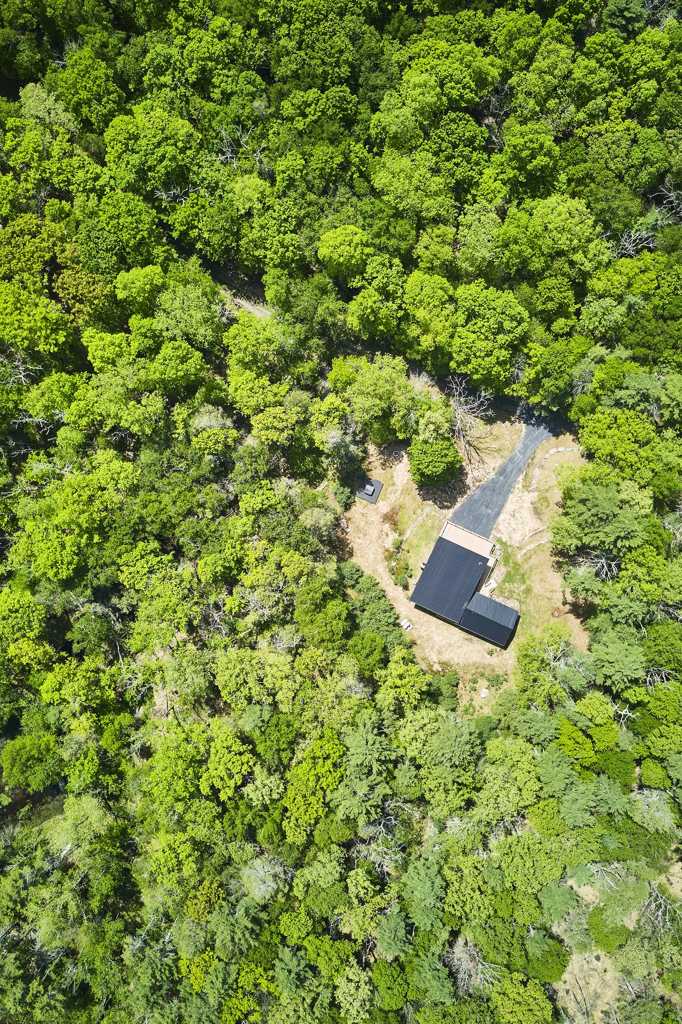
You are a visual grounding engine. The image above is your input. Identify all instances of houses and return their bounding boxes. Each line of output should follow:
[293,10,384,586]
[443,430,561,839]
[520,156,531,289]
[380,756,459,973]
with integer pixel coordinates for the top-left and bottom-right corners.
[410,522,518,646]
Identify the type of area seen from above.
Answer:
forest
